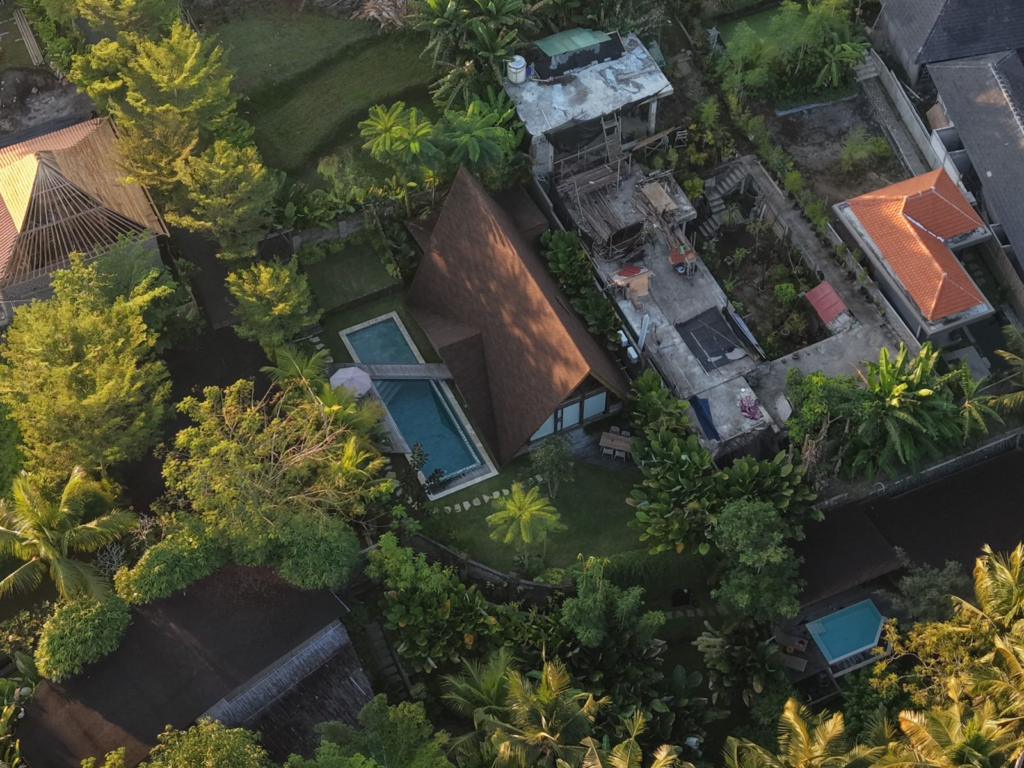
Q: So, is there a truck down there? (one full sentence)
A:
No, this view has no truck in it.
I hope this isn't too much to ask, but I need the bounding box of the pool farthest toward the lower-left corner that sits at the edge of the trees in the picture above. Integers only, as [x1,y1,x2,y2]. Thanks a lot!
[339,312,497,502]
